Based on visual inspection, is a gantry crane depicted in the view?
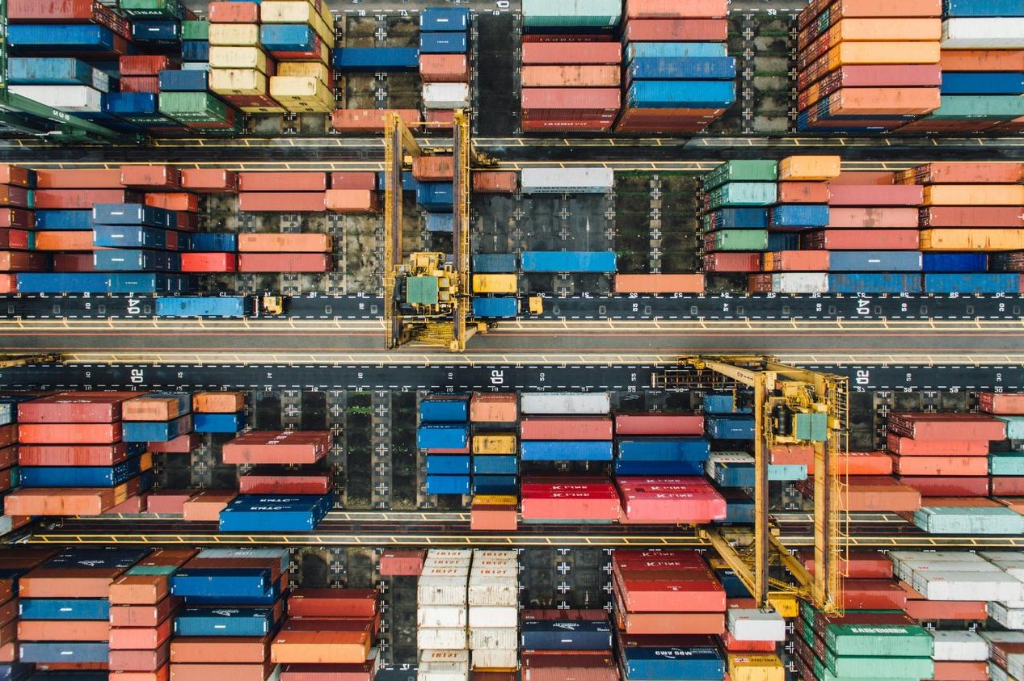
Yes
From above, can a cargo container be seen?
Yes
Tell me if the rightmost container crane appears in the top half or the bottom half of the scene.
bottom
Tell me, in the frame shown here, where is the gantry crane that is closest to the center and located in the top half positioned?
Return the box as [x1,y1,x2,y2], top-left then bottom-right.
[381,112,504,349]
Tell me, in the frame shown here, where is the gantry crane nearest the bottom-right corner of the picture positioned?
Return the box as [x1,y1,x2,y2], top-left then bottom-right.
[651,349,847,608]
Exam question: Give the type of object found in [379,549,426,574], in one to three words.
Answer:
shipping container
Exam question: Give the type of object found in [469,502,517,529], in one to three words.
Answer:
shipping container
